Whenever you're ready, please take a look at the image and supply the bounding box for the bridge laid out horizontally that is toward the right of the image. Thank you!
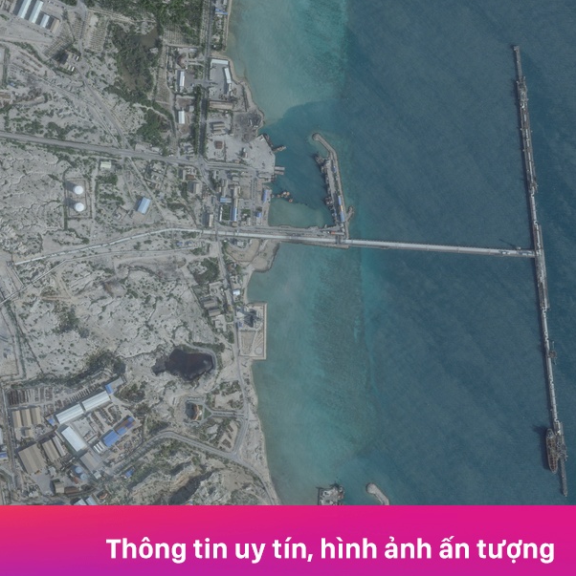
[342,239,536,257]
